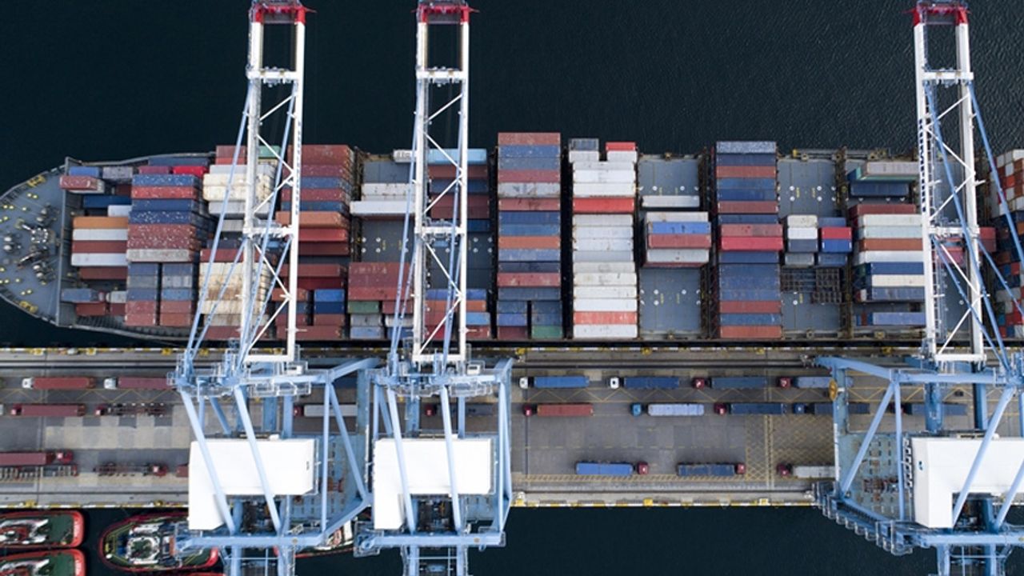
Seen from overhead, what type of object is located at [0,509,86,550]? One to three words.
boat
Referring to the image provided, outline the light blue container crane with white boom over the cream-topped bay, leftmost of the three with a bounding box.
[162,0,397,576]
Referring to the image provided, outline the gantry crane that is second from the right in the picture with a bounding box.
[344,0,533,576]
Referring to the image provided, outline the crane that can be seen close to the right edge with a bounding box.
[799,0,1024,576]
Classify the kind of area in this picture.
port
